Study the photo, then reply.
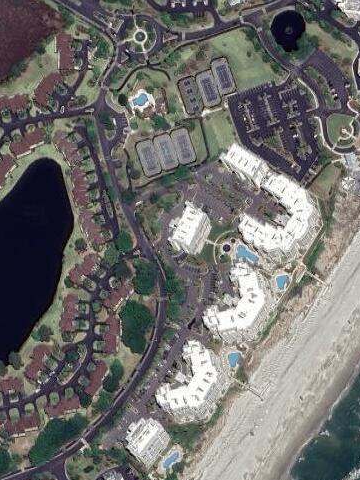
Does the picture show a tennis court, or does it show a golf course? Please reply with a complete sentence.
There is a tennis court in the scene.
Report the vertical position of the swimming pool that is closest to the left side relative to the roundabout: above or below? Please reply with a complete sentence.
The swimming pool that is closest to the left side is below the roundabout.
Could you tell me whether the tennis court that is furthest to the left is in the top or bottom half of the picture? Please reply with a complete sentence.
You can find the tennis court that is furthest to the left in the top half.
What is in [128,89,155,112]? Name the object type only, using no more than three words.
swimming pool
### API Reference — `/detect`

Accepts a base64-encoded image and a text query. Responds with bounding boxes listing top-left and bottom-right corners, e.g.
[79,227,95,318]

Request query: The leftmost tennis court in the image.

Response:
[137,140,161,177]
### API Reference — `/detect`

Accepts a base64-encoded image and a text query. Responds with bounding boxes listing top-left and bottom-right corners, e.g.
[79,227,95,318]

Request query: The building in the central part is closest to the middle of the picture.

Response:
[163,199,212,257]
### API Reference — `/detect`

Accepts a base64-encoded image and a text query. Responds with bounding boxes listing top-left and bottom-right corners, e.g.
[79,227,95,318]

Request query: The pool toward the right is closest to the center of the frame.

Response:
[218,237,261,266]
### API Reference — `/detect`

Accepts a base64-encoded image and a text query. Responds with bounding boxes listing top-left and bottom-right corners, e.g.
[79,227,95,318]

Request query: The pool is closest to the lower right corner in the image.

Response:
[220,348,243,375]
